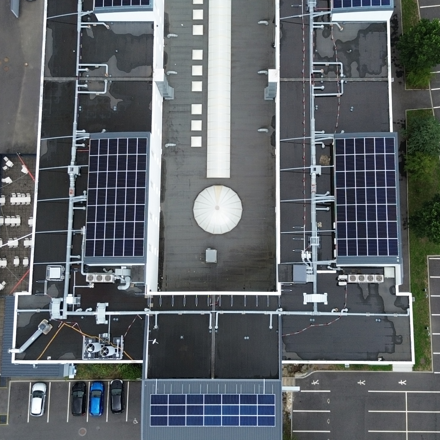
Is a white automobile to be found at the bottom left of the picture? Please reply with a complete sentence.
Yes, at the bottom left of the picture there is a white automobile.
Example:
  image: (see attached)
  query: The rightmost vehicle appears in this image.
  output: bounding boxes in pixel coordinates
[109,379,126,413]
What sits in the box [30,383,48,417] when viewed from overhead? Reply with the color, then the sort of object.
white car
